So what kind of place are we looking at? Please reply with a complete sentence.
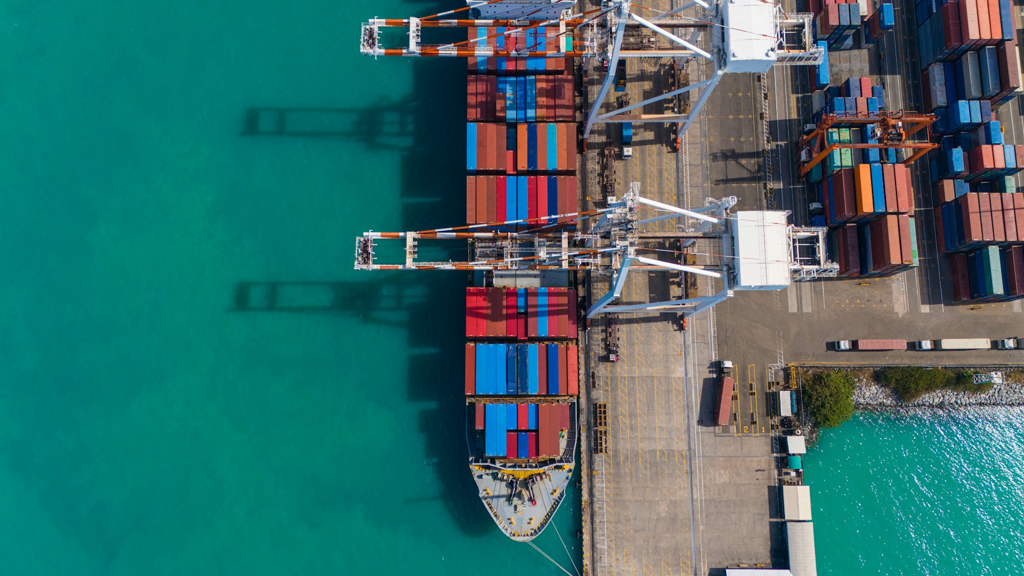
The picture captures a port.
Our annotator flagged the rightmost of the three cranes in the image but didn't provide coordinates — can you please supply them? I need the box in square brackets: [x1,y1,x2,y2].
[798,108,943,180]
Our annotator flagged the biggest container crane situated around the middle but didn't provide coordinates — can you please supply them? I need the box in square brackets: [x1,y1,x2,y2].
[356,180,843,330]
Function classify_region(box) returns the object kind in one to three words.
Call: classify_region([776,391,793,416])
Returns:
shed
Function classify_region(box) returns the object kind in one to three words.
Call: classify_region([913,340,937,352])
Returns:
vehicle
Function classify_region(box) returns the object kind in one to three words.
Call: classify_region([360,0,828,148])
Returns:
container crane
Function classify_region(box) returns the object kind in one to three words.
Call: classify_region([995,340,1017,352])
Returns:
vehicle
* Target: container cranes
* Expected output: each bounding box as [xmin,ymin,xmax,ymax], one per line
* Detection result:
[360,0,828,148]
[356,180,843,330]
[798,108,943,180]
